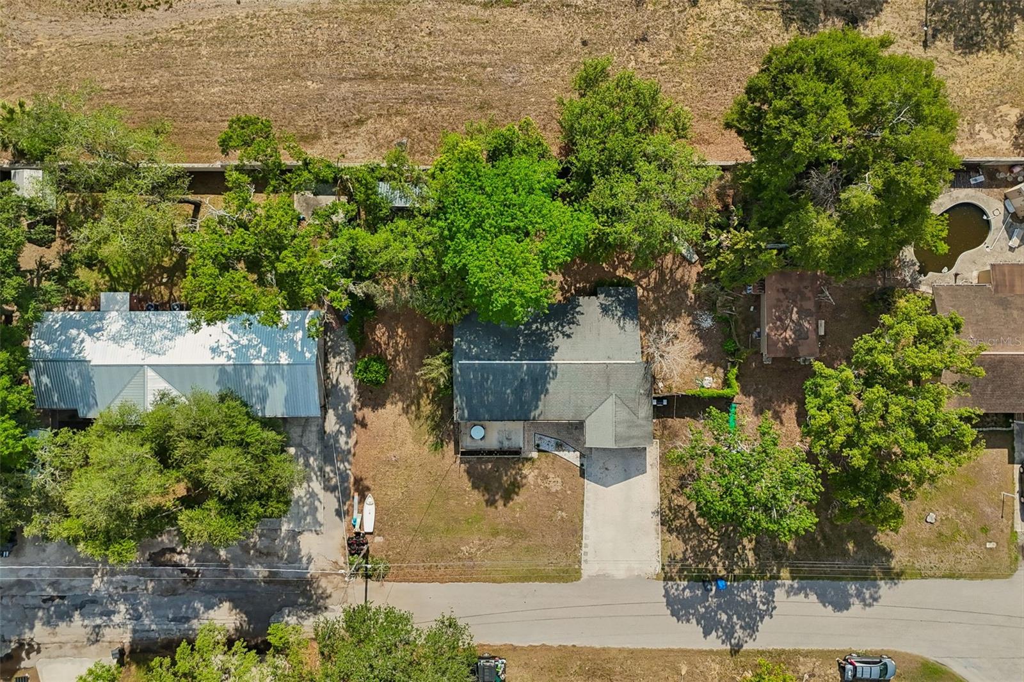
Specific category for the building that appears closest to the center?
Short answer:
home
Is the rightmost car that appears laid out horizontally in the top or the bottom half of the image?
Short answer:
bottom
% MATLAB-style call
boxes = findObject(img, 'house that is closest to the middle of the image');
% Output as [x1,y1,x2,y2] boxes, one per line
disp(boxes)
[451,287,653,449]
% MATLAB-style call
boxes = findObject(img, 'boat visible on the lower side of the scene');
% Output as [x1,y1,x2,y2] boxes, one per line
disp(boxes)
[362,496,374,535]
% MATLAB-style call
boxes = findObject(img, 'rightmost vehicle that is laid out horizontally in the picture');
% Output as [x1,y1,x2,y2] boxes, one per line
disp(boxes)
[838,652,897,682]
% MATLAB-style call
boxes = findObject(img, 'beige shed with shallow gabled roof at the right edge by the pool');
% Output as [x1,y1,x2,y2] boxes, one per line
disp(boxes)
[991,180,1024,218]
